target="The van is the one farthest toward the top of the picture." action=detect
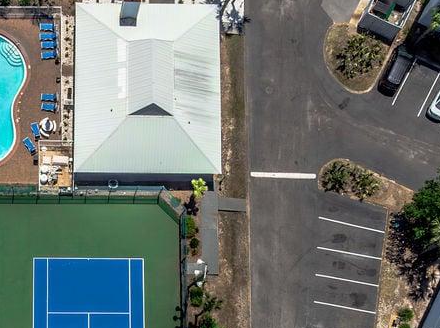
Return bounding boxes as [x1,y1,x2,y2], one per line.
[377,50,413,97]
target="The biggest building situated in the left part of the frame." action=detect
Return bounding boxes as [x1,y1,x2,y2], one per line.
[74,2,222,176]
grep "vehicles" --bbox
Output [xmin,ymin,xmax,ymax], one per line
[427,84,440,120]
[377,50,413,97]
